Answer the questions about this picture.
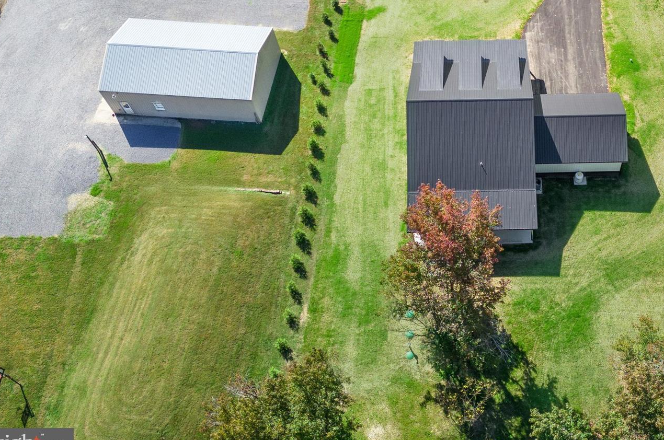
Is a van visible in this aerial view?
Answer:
No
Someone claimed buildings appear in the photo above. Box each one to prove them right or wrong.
[96,19,281,126]
[406,40,628,244]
